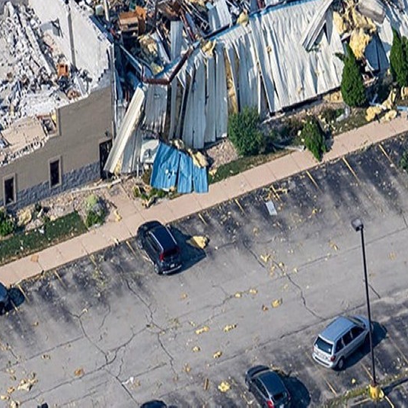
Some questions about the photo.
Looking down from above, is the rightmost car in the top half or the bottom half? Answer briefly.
bottom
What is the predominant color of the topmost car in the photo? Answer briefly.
black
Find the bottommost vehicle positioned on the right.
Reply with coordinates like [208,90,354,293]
[243,362,299,408]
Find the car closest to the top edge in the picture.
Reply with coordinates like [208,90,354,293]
[137,218,183,277]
